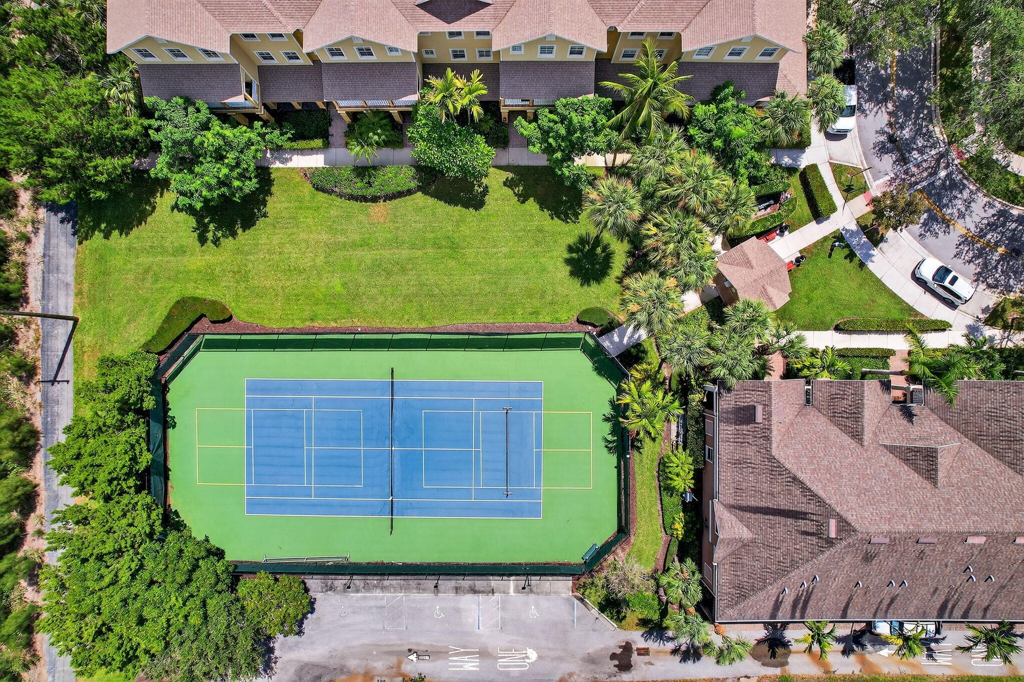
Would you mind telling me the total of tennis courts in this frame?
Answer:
1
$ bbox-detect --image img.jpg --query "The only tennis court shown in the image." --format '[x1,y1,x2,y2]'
[168,333,622,562]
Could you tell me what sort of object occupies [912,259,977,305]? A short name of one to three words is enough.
car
